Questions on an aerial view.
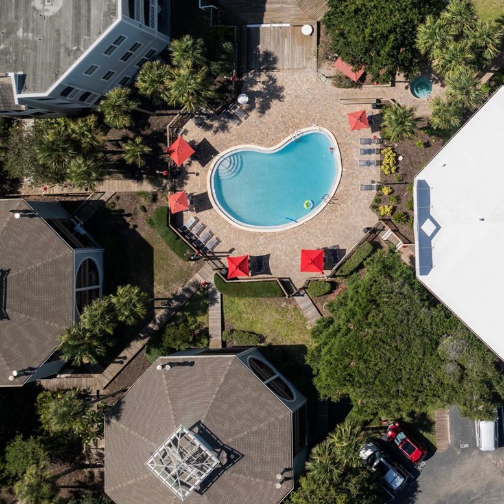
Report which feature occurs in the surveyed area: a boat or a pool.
pool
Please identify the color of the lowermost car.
black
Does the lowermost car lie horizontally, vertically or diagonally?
diagonally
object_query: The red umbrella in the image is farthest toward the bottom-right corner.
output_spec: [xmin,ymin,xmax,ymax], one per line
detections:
[301,250,324,273]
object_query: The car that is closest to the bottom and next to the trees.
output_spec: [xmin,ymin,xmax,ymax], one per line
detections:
[363,444,408,495]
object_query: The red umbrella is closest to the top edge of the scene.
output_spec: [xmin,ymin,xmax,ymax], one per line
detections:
[333,56,366,84]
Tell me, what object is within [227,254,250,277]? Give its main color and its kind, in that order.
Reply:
red umbrella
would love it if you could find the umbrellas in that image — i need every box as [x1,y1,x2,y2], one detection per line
[333,56,366,84]
[169,138,195,164]
[227,254,250,277]
[348,108,369,131]
[166,190,190,213]
[301,250,324,273]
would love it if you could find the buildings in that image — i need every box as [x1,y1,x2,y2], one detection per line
[104,343,319,504]
[0,190,112,387]
[0,0,169,107]
[410,84,504,359]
